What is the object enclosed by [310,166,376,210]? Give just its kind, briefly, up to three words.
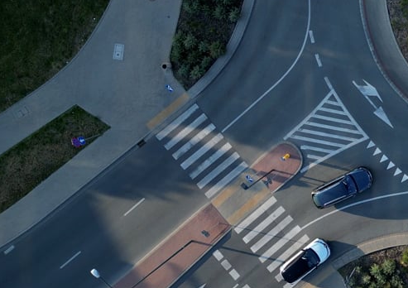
car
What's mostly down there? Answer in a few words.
paved ground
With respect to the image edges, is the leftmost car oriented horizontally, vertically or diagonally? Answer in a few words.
diagonally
